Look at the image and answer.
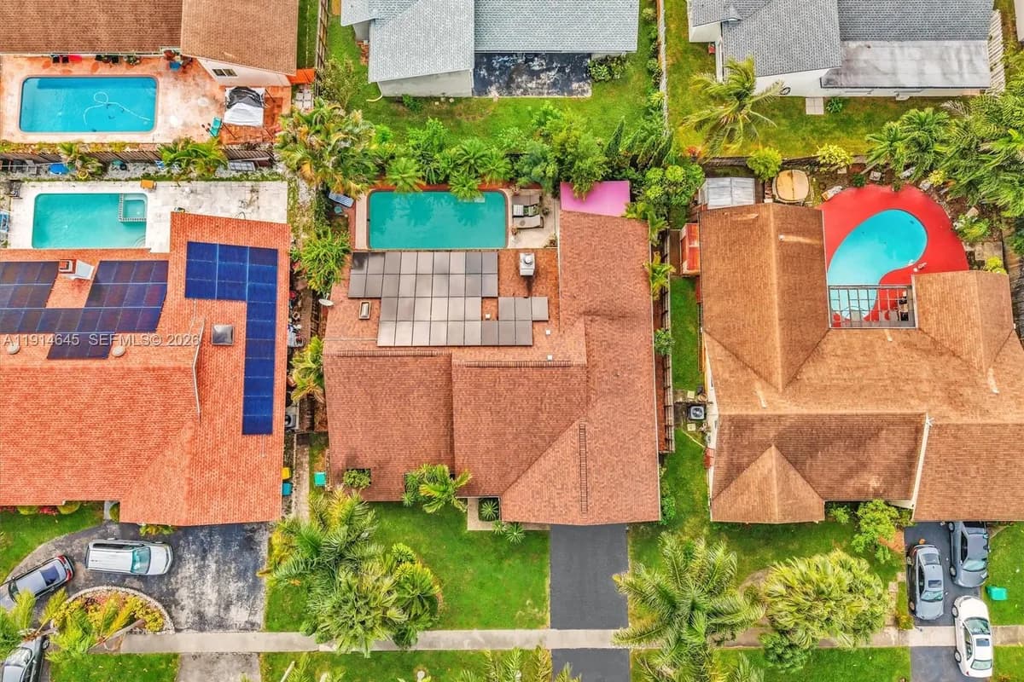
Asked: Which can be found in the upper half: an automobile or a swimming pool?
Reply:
swimming pool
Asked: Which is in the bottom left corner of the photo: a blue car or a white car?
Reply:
white car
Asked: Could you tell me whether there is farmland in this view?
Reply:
No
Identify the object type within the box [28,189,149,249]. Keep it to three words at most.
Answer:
swimming pool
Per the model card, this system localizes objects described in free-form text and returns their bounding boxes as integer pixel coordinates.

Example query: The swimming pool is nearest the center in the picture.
[366,187,510,249]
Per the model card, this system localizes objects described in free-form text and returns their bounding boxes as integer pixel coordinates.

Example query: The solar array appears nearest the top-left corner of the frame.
[0,261,167,357]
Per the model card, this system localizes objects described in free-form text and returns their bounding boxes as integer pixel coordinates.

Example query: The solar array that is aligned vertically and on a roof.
[185,242,278,435]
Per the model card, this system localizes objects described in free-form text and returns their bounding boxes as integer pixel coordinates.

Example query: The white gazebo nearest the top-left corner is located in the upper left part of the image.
[224,86,277,138]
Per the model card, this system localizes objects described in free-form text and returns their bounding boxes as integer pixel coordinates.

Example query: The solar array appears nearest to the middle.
[348,251,549,345]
